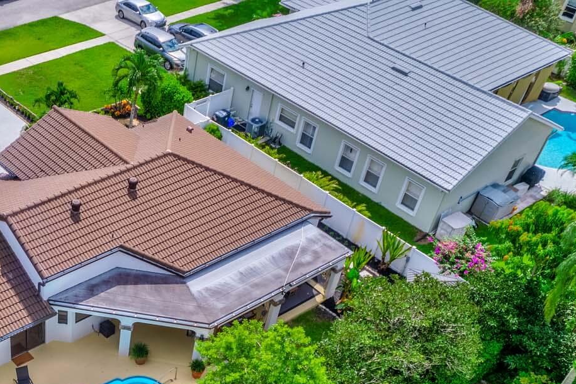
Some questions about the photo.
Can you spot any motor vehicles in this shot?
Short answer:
Yes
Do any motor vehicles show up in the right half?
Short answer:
No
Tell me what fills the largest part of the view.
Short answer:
buildings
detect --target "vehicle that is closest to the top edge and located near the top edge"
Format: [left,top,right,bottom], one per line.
[113,0,165,30]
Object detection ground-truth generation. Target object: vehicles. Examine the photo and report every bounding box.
[137,28,190,70]
[165,20,216,44]
[113,0,165,30]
